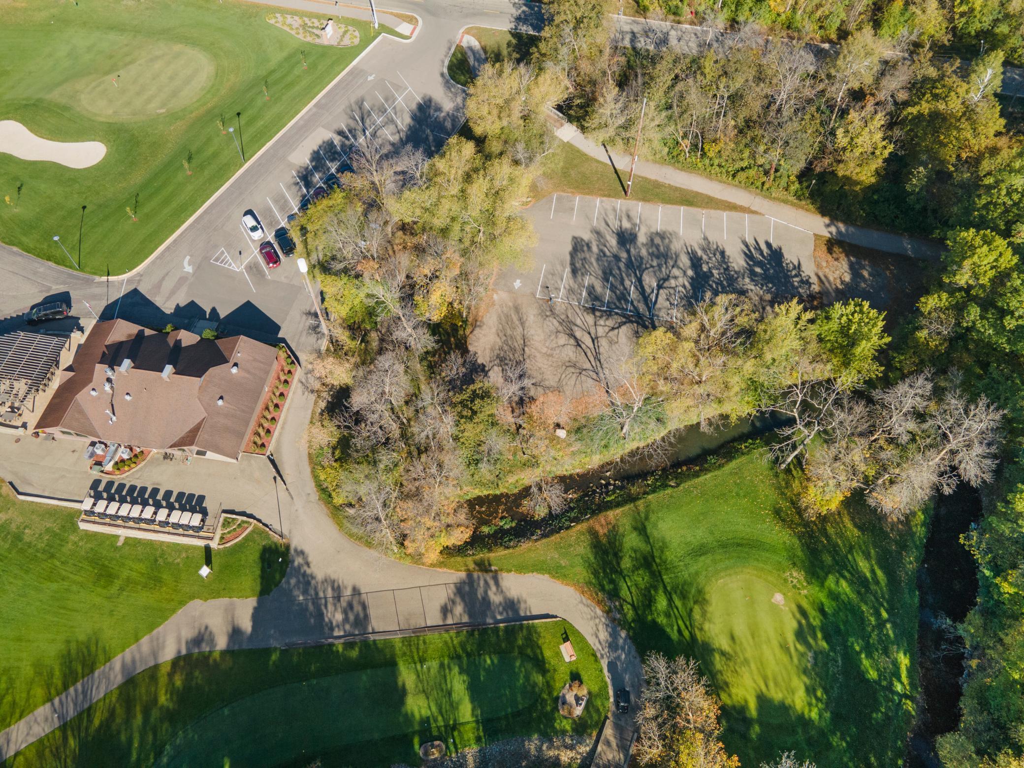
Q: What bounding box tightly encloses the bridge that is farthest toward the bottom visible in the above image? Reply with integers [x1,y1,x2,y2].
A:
[586,711,640,768]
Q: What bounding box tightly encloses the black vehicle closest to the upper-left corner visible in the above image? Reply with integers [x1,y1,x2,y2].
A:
[21,299,68,323]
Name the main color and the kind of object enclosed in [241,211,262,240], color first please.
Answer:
white car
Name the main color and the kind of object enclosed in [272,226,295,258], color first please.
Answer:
black car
